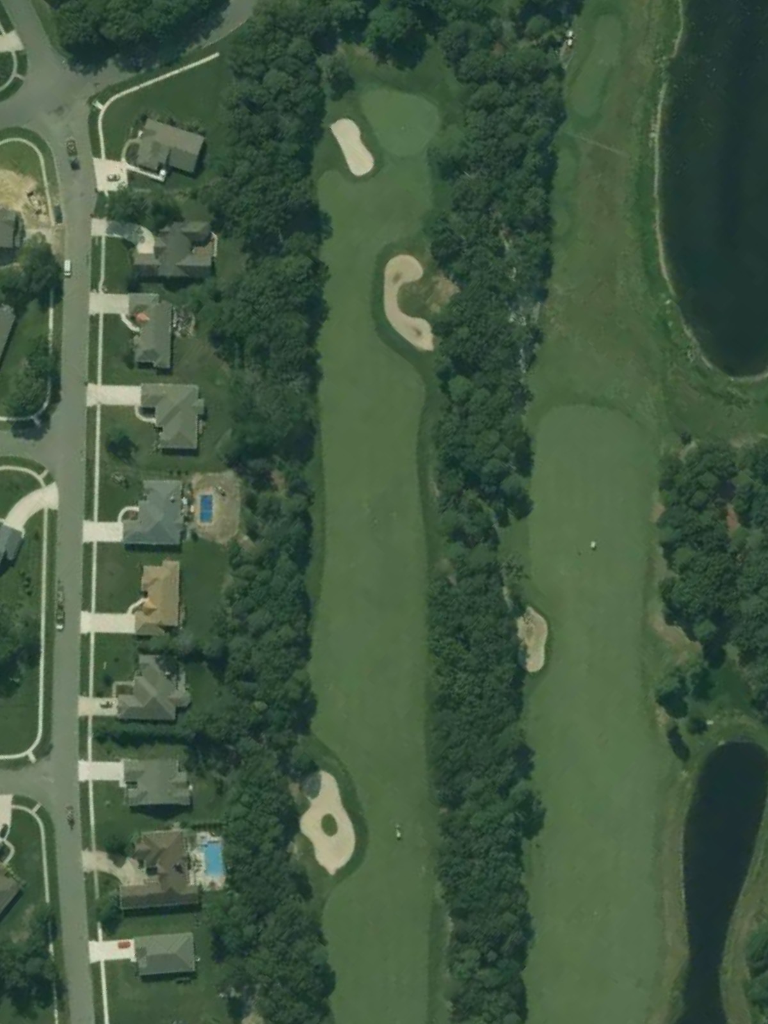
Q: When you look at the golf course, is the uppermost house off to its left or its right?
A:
to the left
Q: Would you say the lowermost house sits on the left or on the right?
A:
left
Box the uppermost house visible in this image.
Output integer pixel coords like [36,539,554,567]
[134,118,205,172]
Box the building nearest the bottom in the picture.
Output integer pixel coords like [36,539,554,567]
[133,933,196,976]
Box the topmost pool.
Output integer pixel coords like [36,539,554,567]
[199,494,214,524]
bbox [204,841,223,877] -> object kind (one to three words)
swimming pool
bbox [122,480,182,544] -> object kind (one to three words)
house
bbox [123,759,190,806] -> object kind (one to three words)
house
